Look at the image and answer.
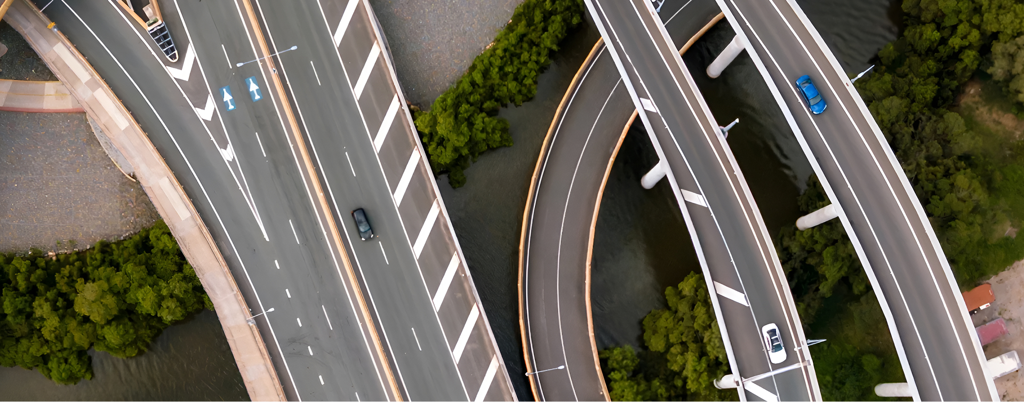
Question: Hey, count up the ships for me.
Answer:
0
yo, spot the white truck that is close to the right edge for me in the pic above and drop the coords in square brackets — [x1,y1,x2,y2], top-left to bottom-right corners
[988,347,1022,376]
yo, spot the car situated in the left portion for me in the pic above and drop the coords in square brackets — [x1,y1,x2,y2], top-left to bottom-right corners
[352,207,374,242]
